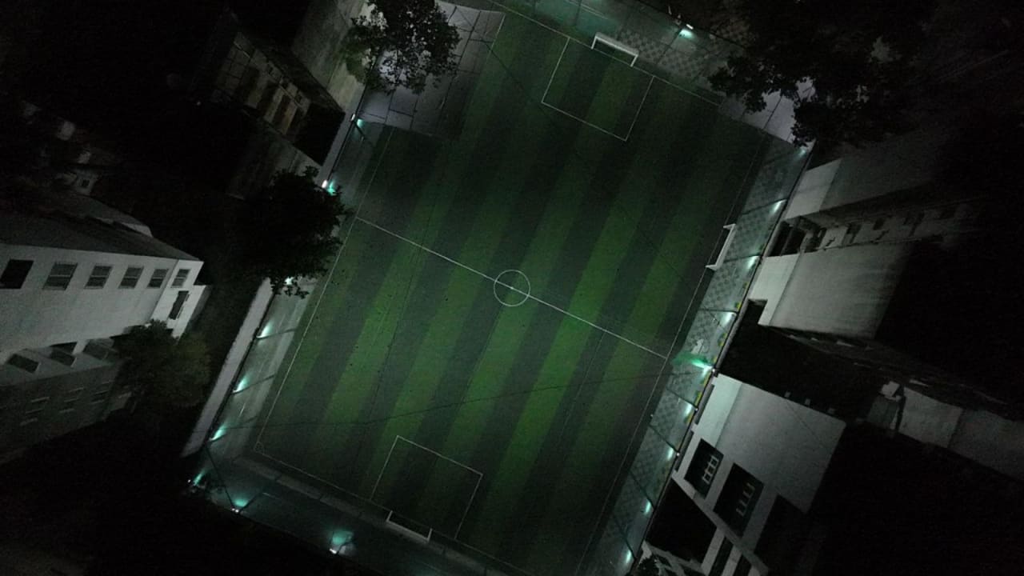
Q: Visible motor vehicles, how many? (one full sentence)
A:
Not a single motor vehicle can be seen.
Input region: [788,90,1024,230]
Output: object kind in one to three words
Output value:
building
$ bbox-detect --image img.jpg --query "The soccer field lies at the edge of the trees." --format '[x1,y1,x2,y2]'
[237,0,782,576]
